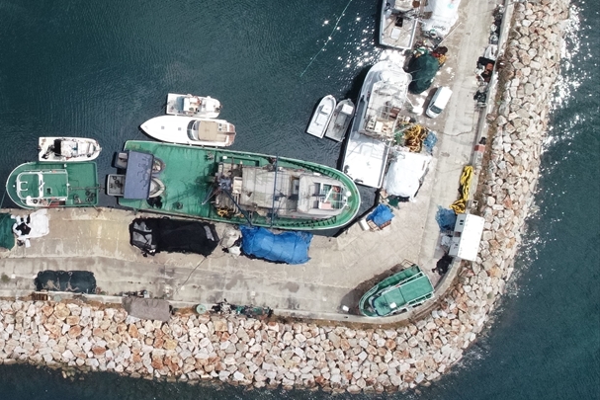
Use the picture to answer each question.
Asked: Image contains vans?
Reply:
Yes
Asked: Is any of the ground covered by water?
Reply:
Yes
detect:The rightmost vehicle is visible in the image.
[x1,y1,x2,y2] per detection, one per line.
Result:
[425,86,454,118]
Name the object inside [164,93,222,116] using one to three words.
boat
